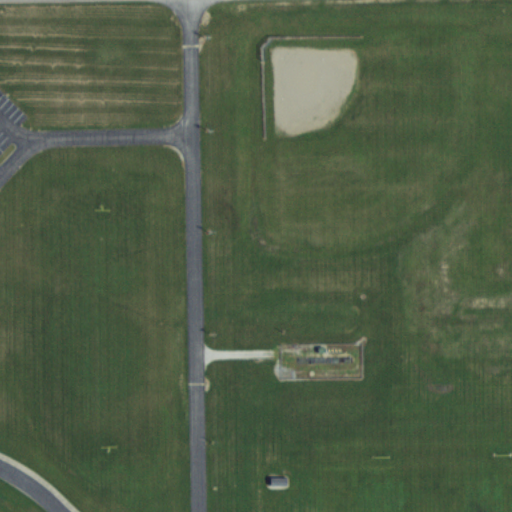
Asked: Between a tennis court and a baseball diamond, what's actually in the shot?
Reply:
baseball diamond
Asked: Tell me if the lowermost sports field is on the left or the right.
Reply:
left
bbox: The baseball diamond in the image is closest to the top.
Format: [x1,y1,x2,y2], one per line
[267,44,483,258]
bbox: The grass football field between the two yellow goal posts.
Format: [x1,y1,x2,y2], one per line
[50,211,162,447]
